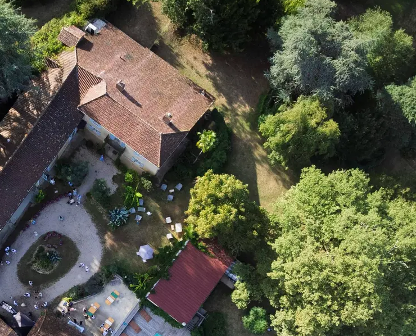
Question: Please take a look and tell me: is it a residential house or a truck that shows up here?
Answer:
residential house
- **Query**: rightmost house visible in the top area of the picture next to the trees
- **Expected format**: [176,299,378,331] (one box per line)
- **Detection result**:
[57,20,217,179]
